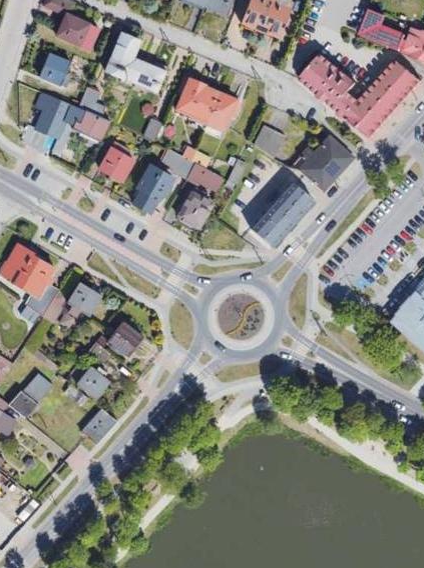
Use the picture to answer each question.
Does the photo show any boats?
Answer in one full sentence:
No, no boat is visible in the view.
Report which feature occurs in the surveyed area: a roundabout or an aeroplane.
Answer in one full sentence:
I can see a roundabout in this picture.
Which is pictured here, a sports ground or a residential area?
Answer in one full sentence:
The area seen from above is a residential area.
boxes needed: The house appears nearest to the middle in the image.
[176,189,215,228]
